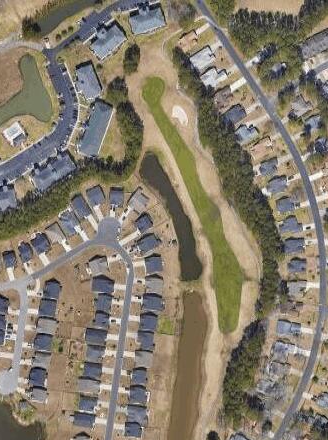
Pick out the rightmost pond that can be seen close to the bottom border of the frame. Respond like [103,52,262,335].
[166,291,207,440]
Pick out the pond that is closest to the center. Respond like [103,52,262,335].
[141,153,203,282]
